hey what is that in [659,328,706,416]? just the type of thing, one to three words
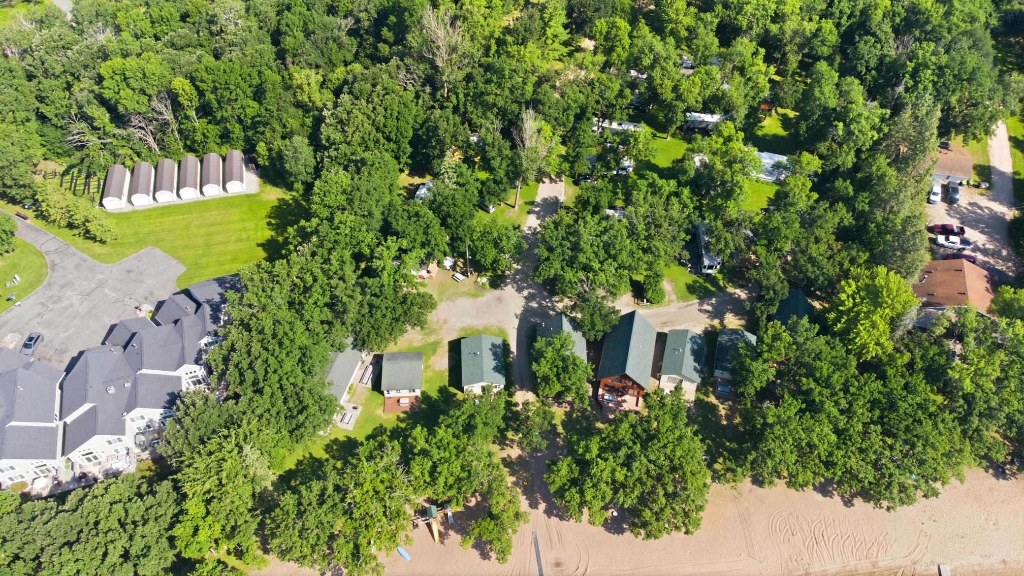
building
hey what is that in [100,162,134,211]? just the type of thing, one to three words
shed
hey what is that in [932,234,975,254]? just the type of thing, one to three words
vehicle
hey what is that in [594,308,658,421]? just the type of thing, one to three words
house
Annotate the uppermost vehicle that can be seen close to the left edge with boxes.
[18,330,48,357]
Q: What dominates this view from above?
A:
trees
